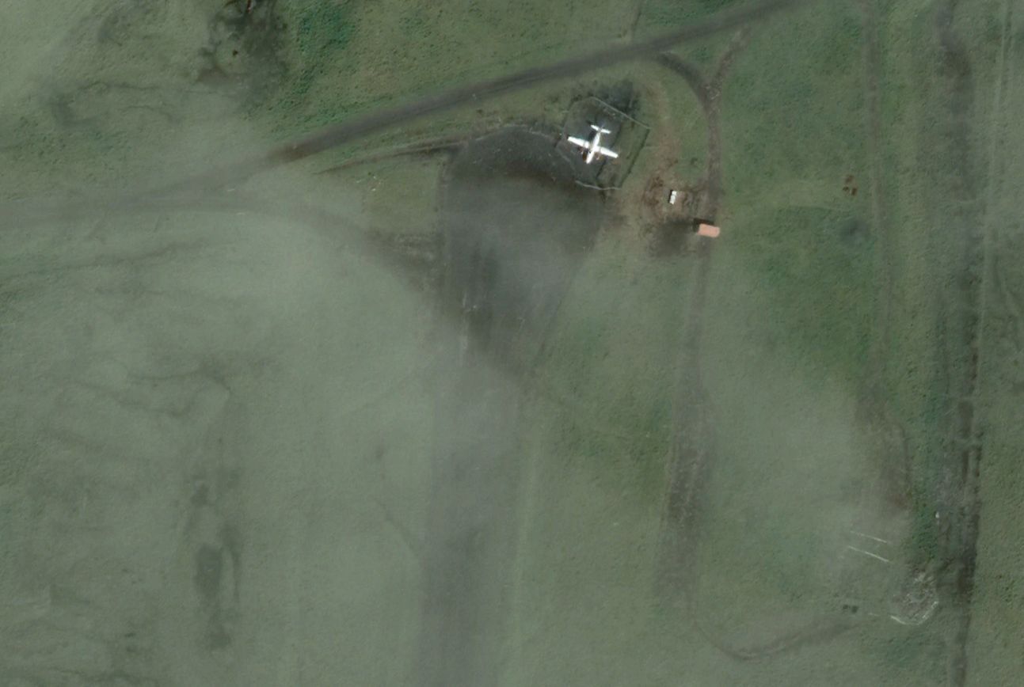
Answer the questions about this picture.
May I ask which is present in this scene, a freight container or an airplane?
airplane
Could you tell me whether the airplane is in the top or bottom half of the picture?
top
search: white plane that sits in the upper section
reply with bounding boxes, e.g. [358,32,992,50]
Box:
[569,124,618,164]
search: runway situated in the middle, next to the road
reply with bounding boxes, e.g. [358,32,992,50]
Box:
[413,96,619,687]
